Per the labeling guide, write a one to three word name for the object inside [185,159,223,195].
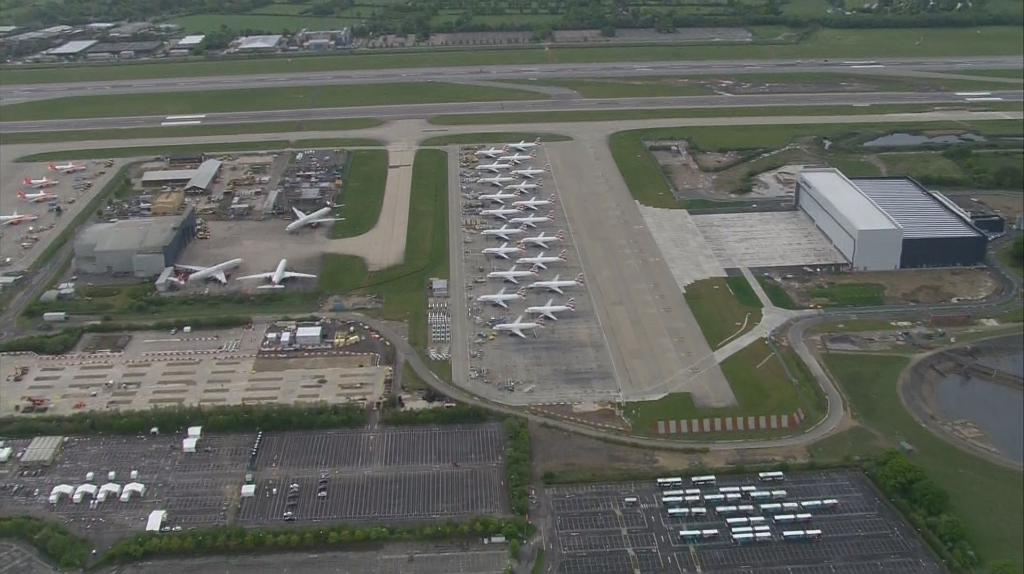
building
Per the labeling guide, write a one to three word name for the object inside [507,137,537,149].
airplane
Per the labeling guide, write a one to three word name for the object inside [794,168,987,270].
hangar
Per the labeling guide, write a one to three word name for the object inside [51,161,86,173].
airplane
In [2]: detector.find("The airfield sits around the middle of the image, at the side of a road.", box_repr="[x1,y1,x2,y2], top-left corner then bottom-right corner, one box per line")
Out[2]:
[0,56,1024,408]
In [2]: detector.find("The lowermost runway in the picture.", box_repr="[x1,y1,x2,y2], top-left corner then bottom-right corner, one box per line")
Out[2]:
[0,90,1024,132]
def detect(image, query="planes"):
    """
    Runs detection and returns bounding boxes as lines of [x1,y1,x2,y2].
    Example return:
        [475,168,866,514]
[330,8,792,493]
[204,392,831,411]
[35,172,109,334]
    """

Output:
[519,194,552,209]
[481,222,523,239]
[475,144,505,157]
[507,137,537,149]
[475,158,511,172]
[479,188,517,203]
[24,175,59,188]
[21,189,57,202]
[477,285,526,307]
[487,264,534,283]
[516,249,561,268]
[480,202,520,218]
[478,171,515,185]
[174,259,242,284]
[493,315,545,337]
[509,211,550,227]
[238,259,313,287]
[505,177,543,192]
[482,240,526,258]
[529,274,578,294]
[525,298,576,320]
[51,161,86,173]
[525,229,565,247]
[498,150,532,163]
[287,197,338,232]
[513,163,546,177]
